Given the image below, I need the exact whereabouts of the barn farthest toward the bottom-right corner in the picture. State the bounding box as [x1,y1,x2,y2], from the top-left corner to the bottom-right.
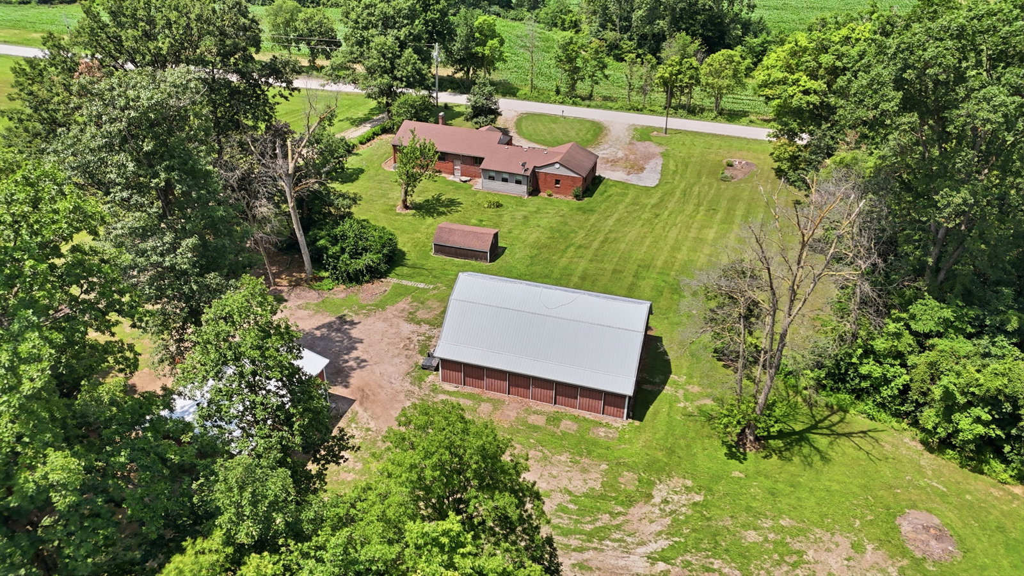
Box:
[431,267,655,419]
